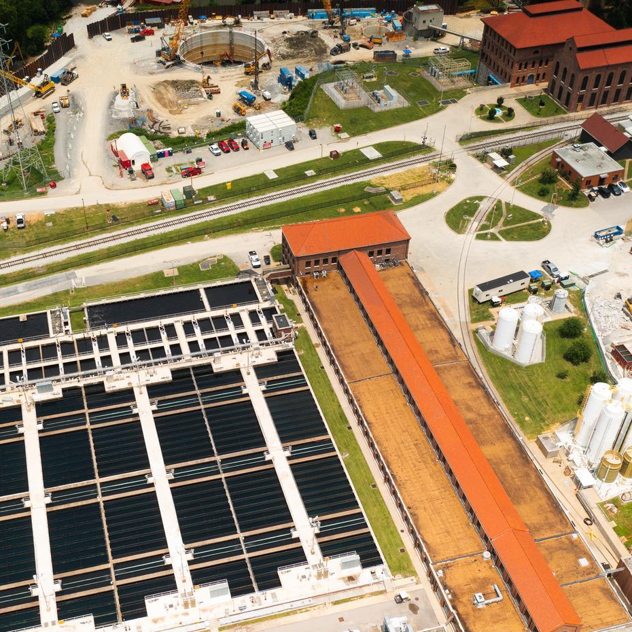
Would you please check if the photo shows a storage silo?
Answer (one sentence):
Yes, the frame does contain a storage silo.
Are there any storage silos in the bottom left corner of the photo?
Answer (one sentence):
No, the scene shows no storage silo in the bottom left corner of the photo.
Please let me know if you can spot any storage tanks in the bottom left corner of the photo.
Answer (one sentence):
No, no storage tank is visible in the bottom left corner of the photo.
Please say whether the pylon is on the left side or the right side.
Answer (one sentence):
The pylon is on the left side of the image.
